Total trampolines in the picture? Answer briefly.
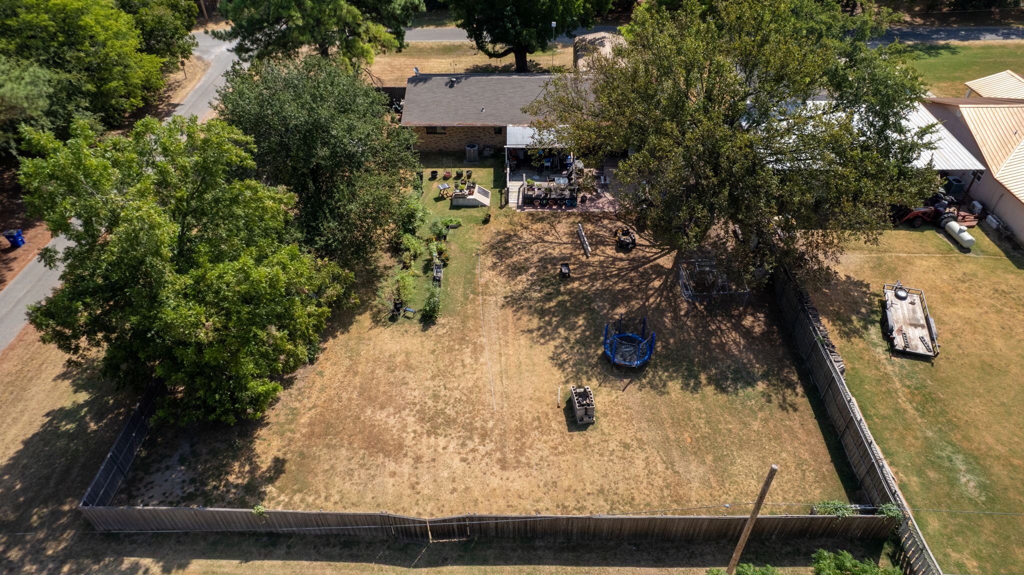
1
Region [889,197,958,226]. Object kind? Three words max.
work vehicle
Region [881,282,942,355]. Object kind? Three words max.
trailer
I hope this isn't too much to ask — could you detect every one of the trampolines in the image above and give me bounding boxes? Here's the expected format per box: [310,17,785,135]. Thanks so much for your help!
[602,311,662,377]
